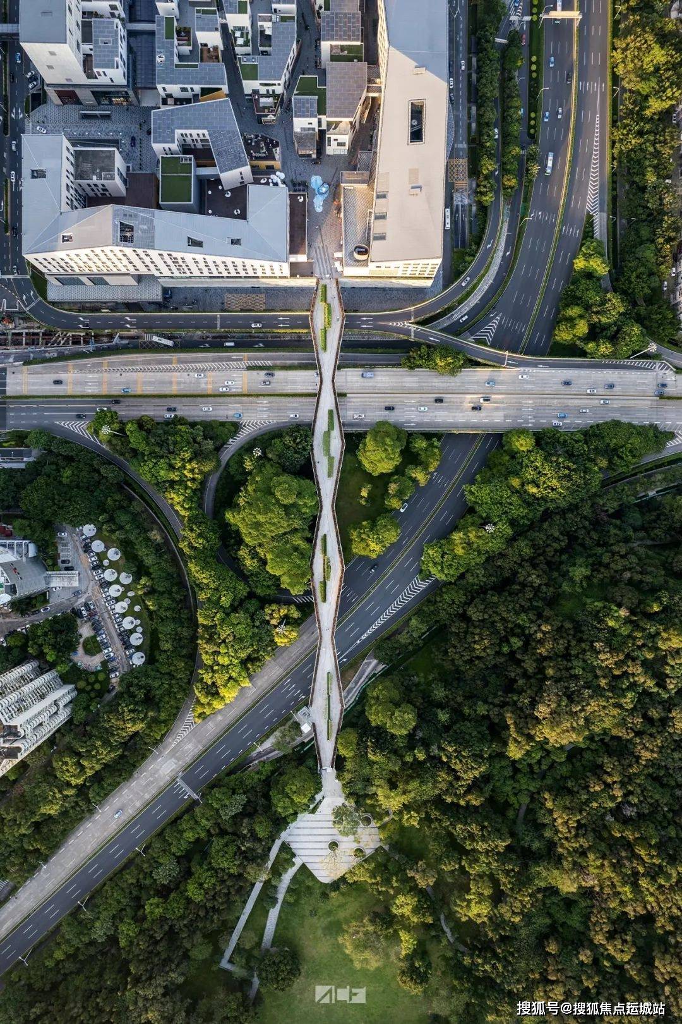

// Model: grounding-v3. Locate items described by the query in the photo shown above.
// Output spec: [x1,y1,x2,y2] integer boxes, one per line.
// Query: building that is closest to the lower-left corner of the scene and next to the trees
[0,657,77,759]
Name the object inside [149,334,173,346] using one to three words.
vehicle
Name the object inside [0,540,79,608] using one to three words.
building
